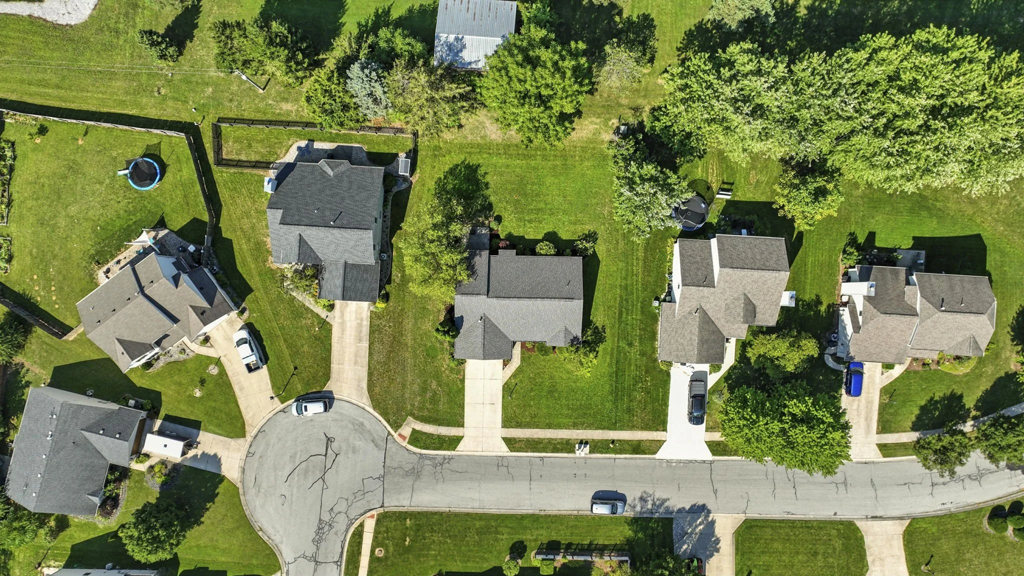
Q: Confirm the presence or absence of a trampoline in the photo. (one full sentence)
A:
Yes, this view includes a trampoline.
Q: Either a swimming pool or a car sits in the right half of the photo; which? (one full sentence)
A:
There is a car in the right half of the photo.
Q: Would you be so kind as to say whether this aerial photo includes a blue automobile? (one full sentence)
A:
Yes, there's a blue automobile here.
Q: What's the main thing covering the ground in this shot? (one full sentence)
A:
For the most part, this view shows grass.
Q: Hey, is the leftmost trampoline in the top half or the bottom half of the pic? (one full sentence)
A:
The top half of the photo is where the leftmost trampoline is.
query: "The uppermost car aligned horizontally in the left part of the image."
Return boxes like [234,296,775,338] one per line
[290,398,332,418]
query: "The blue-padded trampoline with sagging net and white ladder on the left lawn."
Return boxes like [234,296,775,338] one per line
[122,154,165,191]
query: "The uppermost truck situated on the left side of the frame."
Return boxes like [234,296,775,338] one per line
[234,326,264,375]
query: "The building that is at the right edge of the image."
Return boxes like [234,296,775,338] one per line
[835,265,996,364]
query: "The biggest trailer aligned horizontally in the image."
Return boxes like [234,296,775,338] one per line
[143,430,202,457]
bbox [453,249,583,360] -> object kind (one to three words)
house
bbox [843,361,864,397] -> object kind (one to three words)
car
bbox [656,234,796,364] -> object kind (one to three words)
house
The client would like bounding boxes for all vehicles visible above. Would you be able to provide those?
[687,379,707,425]
[688,556,703,569]
[234,326,264,375]
[589,497,626,517]
[290,398,332,418]
[843,361,864,397]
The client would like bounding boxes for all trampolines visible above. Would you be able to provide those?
[122,154,165,191]
[676,196,709,232]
